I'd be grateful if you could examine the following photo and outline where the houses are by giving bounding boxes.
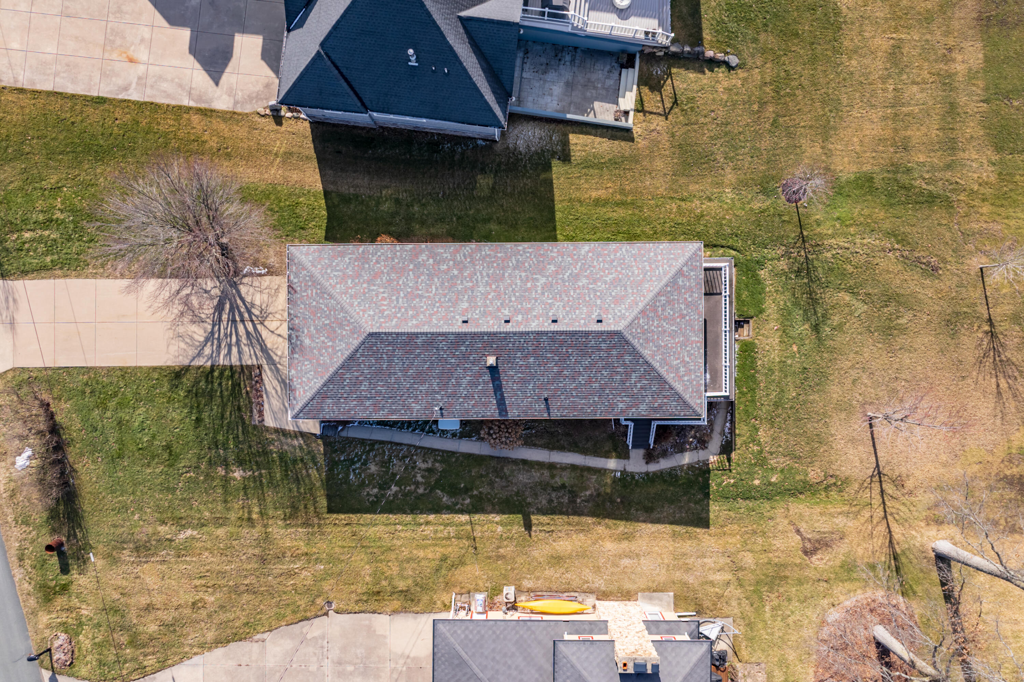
[275,0,523,149]
[431,598,713,682]
[286,239,707,430]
